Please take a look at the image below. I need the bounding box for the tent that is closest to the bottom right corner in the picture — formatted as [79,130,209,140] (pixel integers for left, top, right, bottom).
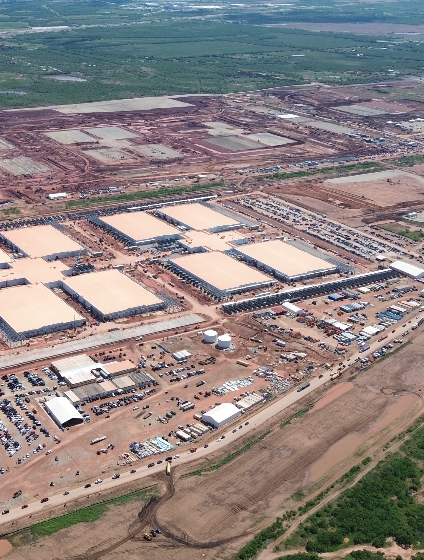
[203,403,240,431]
